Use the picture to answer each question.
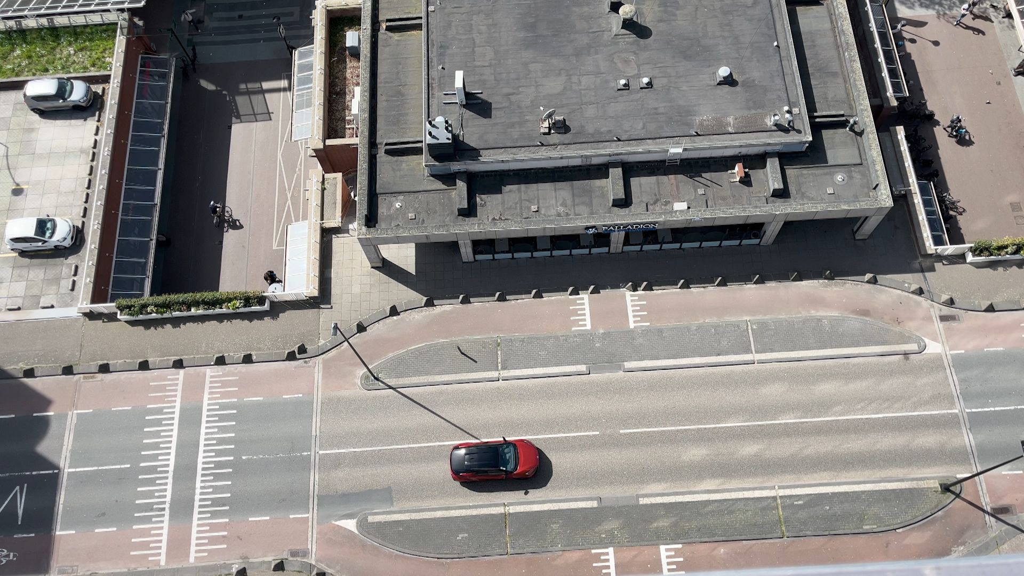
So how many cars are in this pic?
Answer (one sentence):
Looking from above, you can make out 3 cars.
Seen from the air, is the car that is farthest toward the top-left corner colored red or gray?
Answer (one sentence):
The car that is farthest toward the top-left corner looks gray in the image.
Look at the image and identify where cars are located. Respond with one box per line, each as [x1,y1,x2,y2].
[451,434,539,483]
[6,214,77,256]
[23,77,94,116]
